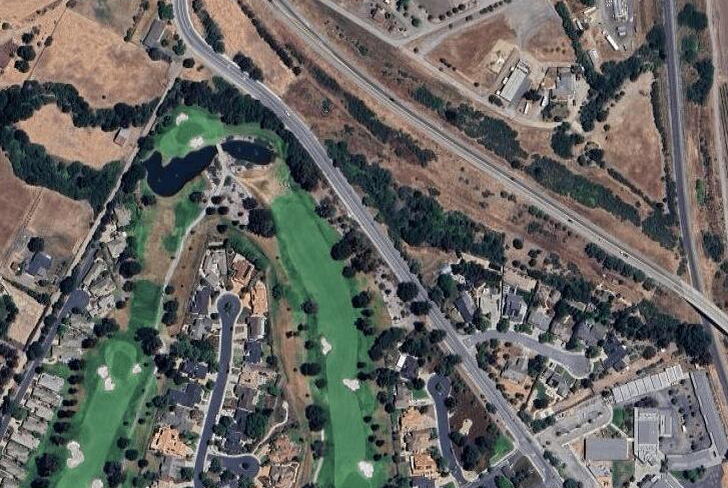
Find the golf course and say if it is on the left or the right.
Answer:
left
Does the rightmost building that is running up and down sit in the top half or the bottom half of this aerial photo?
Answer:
bottom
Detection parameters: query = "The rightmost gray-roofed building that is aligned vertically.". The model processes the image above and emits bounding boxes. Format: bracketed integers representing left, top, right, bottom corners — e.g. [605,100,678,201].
[694,372,728,456]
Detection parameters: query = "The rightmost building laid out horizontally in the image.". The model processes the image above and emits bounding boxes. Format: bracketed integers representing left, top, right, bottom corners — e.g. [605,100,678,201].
[665,450,721,469]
